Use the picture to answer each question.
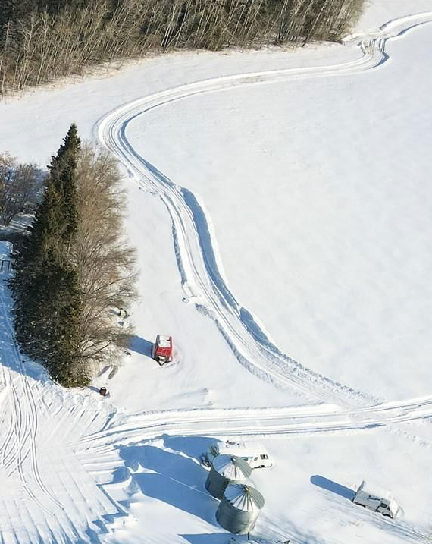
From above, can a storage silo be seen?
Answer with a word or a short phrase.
Yes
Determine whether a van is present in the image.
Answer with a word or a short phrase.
Yes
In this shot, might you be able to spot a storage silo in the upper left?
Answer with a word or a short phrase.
No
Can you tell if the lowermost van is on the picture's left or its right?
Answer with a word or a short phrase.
right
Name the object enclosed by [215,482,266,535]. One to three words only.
silo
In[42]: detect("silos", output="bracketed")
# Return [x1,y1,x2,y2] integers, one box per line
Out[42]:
[215,482,266,535]
[204,454,253,501]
